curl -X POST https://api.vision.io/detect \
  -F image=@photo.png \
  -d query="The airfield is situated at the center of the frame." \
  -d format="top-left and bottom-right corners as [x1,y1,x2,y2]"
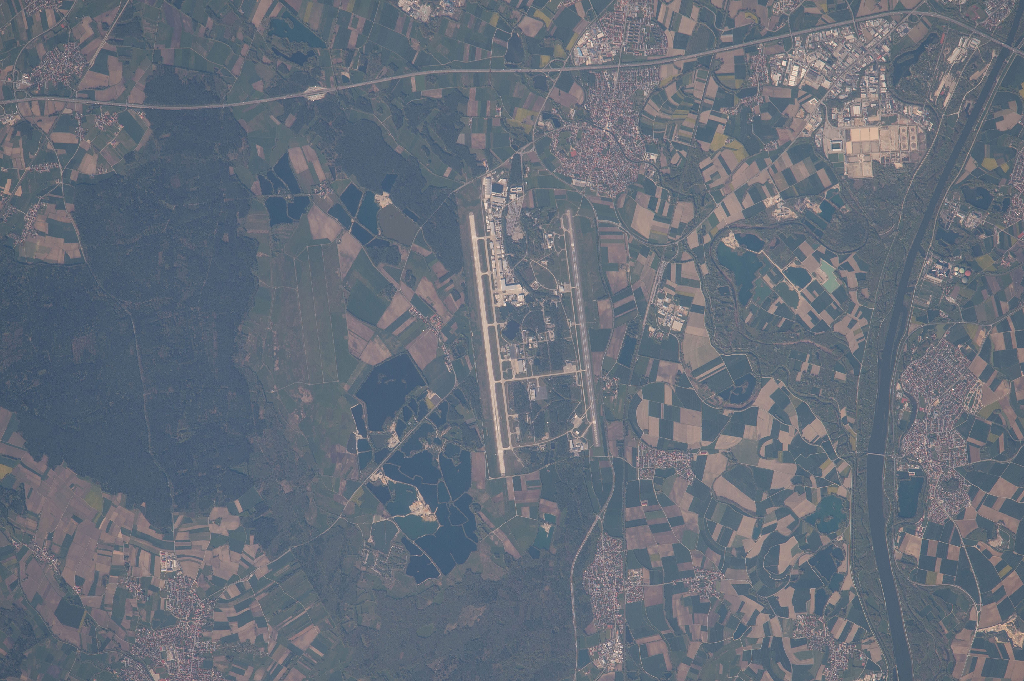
[469,172,599,477]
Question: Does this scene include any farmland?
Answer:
Yes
